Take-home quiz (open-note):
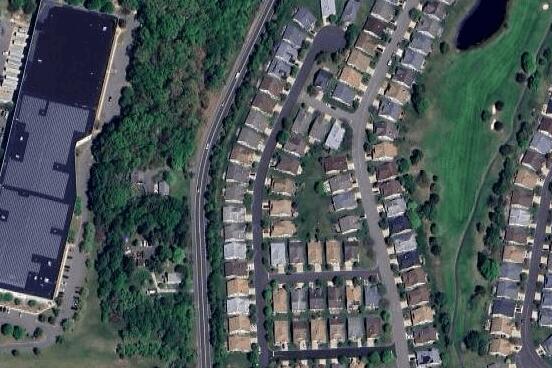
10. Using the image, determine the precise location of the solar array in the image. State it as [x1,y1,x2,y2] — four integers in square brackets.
[0,98,87,290]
